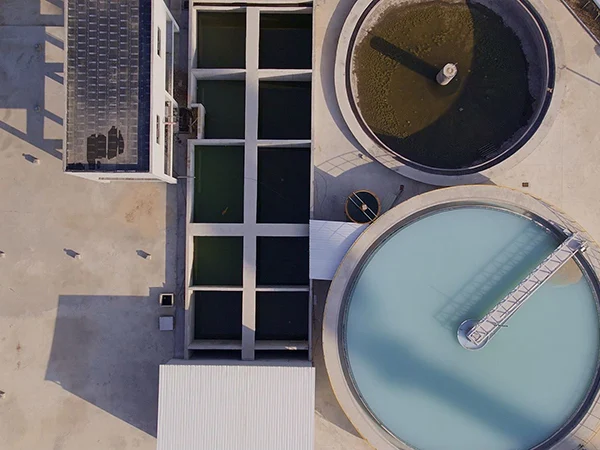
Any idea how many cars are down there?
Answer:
0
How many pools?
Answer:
0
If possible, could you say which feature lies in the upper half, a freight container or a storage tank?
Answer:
storage tank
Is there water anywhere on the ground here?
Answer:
Yes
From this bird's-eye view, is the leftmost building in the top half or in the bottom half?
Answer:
top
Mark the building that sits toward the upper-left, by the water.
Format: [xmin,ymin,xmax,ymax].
[63,0,178,183]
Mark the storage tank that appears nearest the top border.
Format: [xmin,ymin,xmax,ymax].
[334,0,567,188]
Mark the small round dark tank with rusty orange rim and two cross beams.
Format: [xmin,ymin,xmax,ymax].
[344,189,380,223]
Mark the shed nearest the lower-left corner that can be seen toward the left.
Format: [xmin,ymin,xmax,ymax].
[158,354,314,450]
